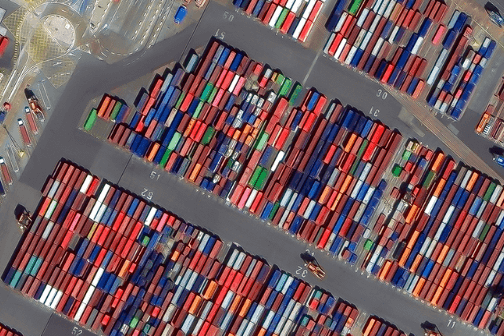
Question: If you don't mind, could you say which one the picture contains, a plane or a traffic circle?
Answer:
traffic circle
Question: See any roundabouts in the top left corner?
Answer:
Yes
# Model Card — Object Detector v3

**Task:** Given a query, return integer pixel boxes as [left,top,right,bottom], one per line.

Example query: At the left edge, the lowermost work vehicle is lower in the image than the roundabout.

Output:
[19,210,36,230]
